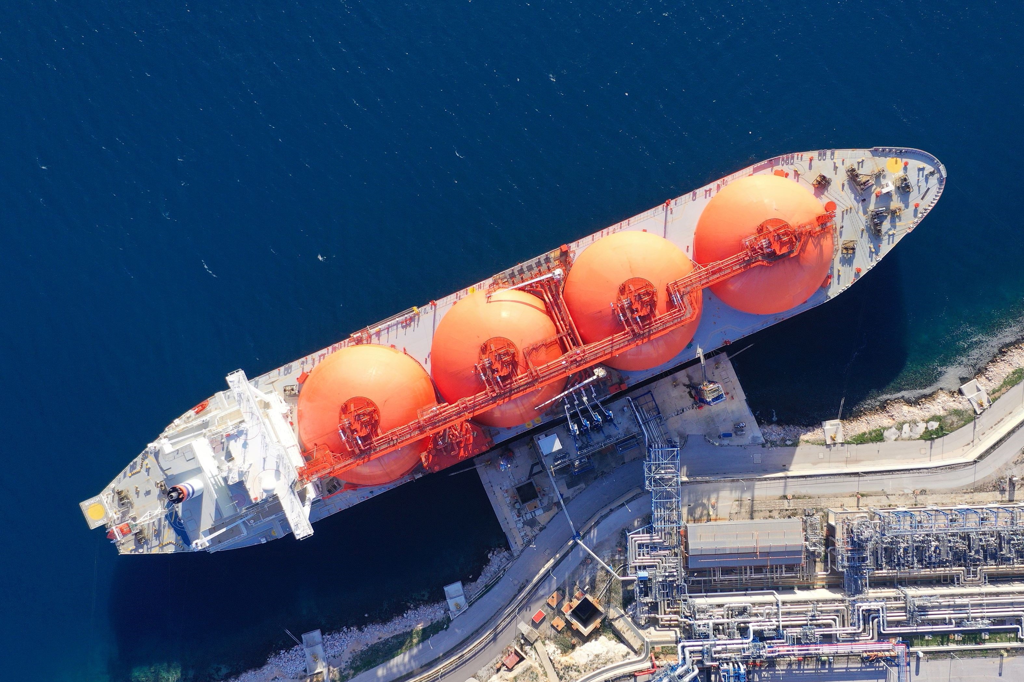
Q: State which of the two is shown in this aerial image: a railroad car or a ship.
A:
ship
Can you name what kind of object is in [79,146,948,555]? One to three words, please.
ship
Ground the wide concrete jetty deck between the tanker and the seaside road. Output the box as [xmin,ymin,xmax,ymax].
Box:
[474,348,765,557]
